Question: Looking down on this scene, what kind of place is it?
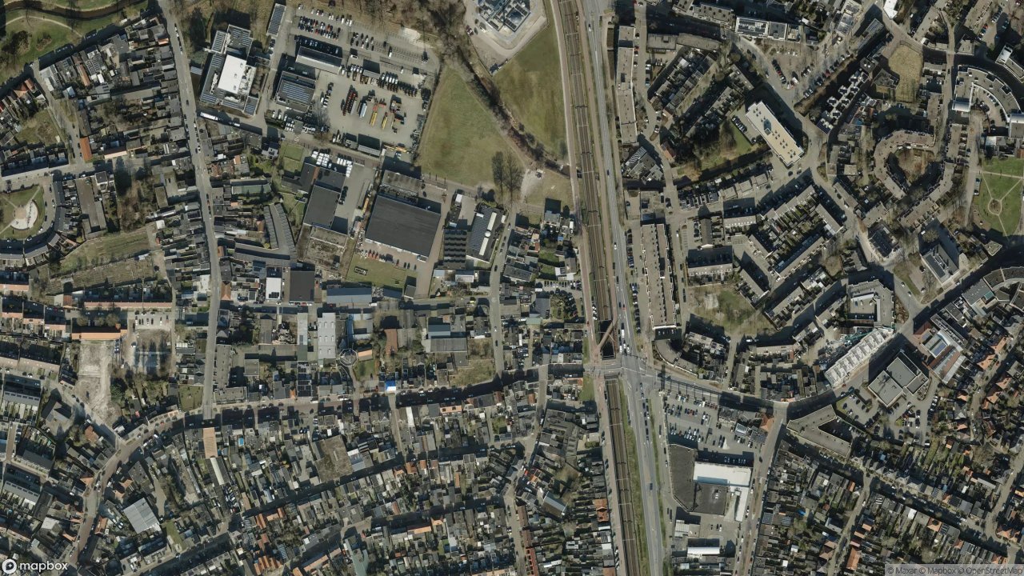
residential area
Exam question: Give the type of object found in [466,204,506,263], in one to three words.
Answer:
building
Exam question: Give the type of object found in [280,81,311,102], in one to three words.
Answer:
solar panel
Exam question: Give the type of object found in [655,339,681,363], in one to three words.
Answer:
building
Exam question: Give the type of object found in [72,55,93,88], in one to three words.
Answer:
house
